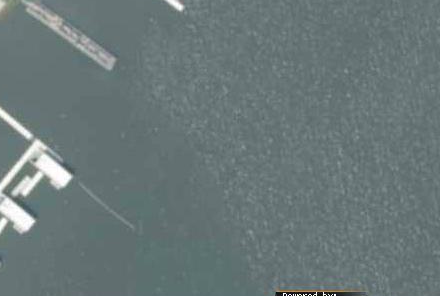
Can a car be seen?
No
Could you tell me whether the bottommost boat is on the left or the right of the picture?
left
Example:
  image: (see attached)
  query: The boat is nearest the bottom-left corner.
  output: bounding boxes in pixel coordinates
[0,193,37,232]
